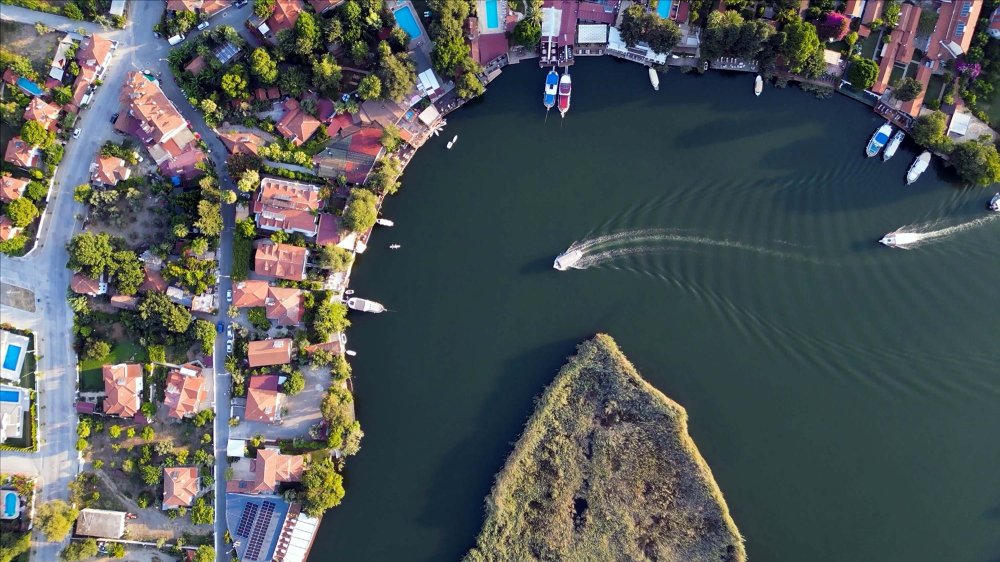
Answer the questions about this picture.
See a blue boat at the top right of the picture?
Yes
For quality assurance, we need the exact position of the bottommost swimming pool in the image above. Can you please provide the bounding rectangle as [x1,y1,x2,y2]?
[2,490,20,520]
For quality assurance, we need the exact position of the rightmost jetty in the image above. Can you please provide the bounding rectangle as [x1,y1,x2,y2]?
[874,103,916,134]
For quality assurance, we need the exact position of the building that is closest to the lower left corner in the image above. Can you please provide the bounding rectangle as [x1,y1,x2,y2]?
[75,507,130,540]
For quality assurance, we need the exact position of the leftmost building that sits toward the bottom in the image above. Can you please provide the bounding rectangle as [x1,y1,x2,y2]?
[0,398,32,439]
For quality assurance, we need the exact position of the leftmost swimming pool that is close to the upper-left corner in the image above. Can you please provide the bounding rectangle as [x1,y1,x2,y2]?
[17,77,45,97]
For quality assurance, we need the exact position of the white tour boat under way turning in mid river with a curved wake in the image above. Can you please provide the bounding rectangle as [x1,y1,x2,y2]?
[552,248,586,269]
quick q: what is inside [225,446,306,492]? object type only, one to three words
house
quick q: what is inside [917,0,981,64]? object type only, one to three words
building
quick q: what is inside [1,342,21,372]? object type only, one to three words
swimming pool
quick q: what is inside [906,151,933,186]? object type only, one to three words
boat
